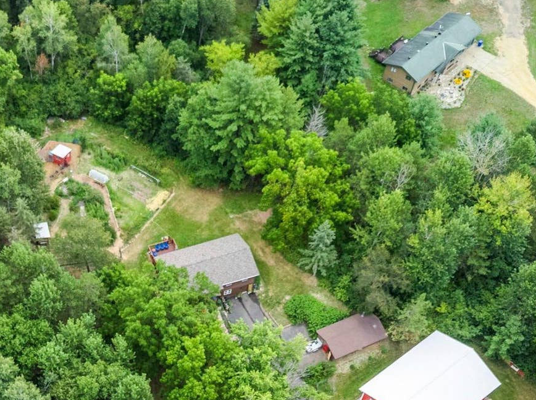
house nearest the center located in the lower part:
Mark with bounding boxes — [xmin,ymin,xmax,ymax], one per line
[147,233,262,311]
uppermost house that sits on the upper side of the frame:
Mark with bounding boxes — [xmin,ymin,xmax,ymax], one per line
[369,13,483,87]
